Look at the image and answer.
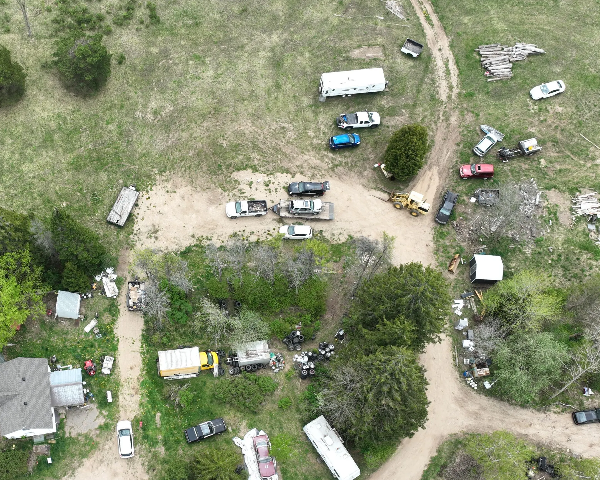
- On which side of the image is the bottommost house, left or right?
left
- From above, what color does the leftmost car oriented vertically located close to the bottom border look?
white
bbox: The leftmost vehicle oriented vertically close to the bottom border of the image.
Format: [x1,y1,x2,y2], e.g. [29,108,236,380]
[115,421,135,459]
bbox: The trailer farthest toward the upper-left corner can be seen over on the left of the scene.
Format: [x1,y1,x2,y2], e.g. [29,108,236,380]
[106,184,140,228]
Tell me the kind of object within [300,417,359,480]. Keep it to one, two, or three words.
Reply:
camper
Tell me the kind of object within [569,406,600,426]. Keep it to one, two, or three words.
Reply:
car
